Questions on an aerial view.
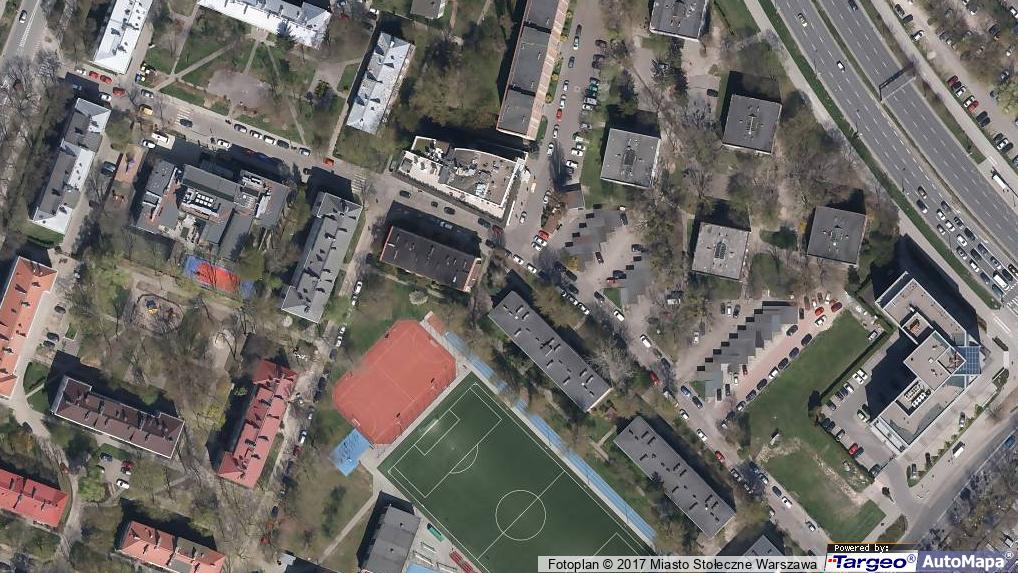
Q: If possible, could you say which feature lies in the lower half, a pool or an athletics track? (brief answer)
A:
athletics track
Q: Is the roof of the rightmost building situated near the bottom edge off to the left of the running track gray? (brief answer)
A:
Yes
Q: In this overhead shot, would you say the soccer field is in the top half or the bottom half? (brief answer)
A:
bottom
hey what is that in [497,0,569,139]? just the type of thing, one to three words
building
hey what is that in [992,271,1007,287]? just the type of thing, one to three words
vehicle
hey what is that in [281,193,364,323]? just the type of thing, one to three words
building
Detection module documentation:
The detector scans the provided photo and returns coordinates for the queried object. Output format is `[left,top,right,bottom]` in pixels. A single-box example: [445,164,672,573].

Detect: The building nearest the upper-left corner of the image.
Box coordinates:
[94,0,155,75]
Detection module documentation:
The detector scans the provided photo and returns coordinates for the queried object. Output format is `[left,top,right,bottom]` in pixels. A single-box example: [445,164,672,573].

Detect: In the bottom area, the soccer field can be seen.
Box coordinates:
[380,373,675,573]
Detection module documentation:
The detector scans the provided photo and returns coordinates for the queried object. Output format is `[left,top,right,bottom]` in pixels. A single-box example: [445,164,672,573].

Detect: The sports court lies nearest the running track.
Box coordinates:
[333,320,456,444]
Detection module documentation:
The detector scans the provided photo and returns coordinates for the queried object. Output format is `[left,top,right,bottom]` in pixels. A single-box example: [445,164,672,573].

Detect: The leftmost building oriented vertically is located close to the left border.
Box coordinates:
[0,256,61,398]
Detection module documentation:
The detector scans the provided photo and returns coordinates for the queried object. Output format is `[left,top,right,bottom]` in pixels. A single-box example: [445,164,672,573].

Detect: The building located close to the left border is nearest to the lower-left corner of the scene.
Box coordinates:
[0,468,71,527]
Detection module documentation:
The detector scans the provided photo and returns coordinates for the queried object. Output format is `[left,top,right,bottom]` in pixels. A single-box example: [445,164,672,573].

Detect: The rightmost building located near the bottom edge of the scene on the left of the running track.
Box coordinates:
[366,505,423,573]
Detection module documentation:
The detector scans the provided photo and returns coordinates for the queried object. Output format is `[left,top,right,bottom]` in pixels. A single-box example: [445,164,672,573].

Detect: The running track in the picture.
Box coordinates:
[430,310,661,552]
